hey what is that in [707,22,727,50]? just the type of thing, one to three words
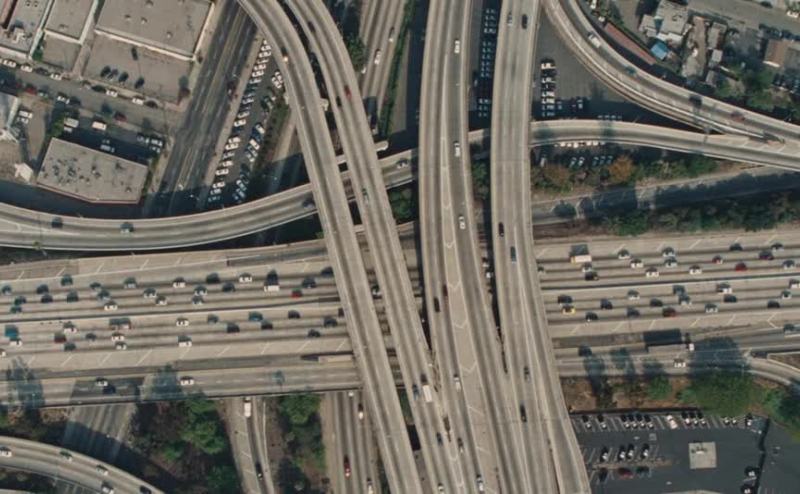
building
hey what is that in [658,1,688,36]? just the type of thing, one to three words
building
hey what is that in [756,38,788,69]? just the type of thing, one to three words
house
